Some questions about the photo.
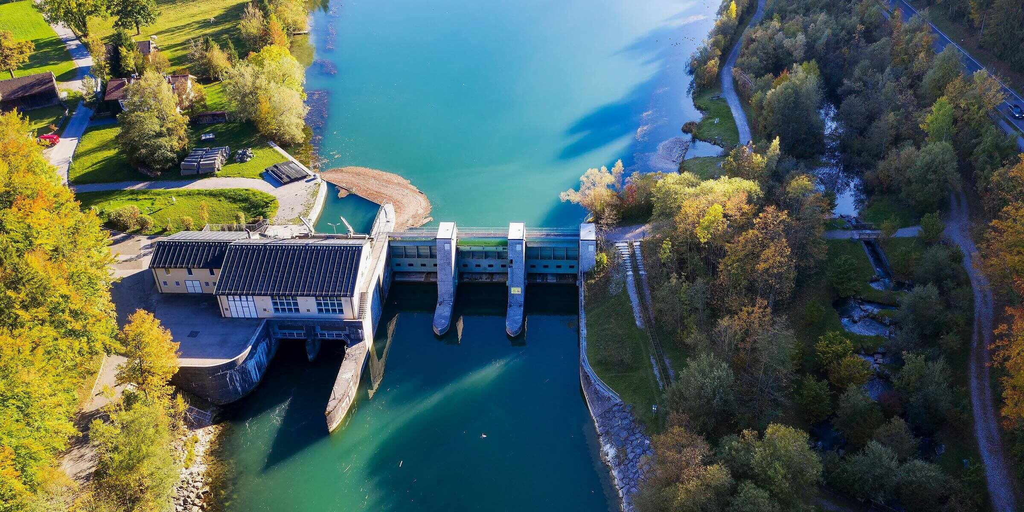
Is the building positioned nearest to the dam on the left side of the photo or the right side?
left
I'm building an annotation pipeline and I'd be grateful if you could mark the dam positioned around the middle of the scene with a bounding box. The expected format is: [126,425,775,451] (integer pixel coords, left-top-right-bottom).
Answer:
[391,219,596,337]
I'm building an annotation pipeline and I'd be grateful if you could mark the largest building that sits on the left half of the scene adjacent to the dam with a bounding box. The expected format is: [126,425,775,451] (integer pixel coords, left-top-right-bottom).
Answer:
[212,238,380,361]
